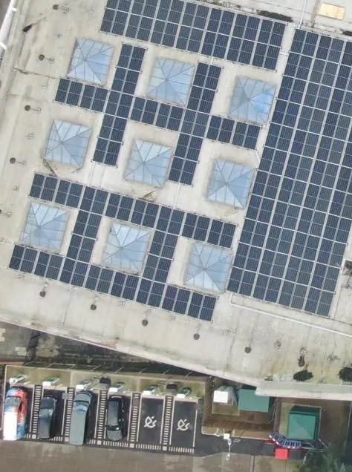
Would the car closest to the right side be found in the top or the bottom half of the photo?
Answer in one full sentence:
Seen from above, the car closest to the right side lies in the bottom half of the view.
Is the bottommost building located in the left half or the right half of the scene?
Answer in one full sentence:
The bottommost building appears in the right half of the scene.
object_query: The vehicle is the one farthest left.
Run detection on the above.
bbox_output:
[1,386,31,443]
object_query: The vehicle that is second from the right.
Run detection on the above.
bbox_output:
[64,387,95,444]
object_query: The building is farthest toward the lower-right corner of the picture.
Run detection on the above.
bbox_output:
[279,402,322,441]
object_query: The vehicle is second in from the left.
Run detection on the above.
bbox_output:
[35,393,60,442]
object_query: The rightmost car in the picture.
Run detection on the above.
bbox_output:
[103,394,129,441]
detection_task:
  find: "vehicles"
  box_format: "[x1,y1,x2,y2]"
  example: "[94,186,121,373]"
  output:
[103,394,129,441]
[64,387,95,444]
[1,386,31,443]
[35,393,60,442]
